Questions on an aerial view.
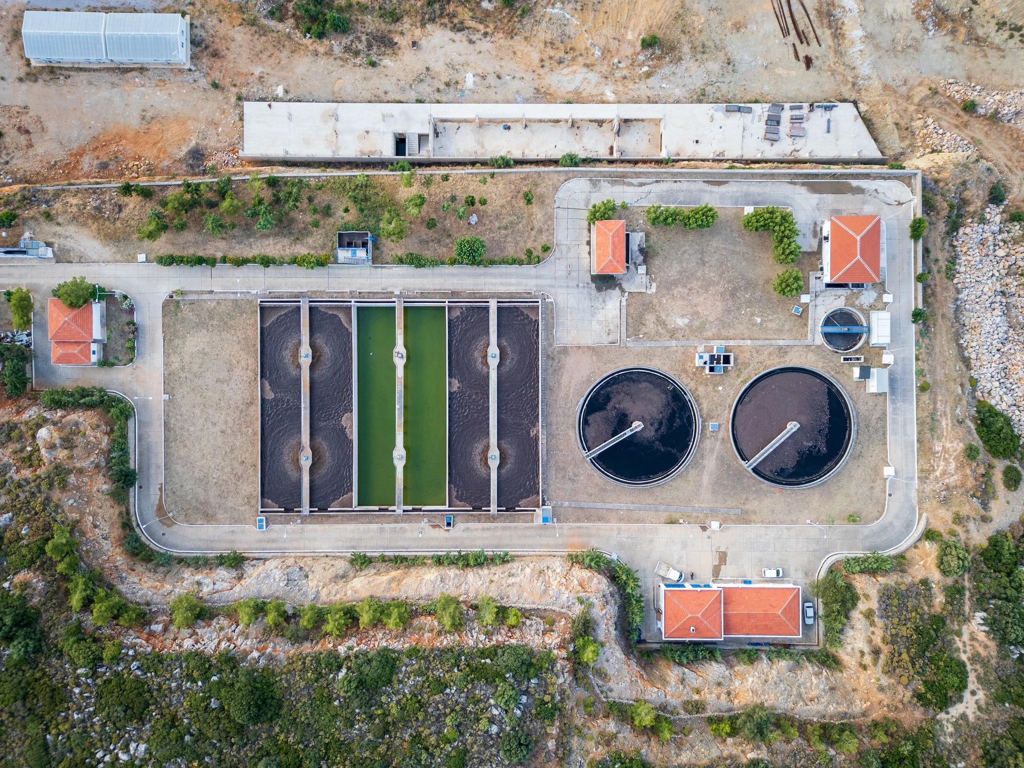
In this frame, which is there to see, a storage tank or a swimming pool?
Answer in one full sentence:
Visible in the photo is a storage tank.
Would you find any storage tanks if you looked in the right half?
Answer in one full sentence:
Yes, in the right half there is a storage tank.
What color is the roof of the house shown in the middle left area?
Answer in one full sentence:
From above, the roof of the house shown in the middle left area looks red.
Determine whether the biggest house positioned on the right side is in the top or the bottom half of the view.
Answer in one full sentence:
The biggest house positioned on the right side is in the bottom half of the image.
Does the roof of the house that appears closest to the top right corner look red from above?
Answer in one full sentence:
Yes, red is the color of the roof of the house that appears closest to the top right corner.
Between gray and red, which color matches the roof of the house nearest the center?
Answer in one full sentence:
From above, the roof of the house nearest the center appears red.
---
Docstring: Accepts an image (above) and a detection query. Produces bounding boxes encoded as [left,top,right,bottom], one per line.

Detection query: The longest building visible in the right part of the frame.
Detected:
[660,584,802,642]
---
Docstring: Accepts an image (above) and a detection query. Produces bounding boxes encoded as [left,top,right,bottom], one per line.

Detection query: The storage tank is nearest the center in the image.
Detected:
[576,364,702,489]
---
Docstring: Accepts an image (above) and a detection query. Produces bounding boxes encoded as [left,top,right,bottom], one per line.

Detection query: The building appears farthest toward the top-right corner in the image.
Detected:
[819,215,881,290]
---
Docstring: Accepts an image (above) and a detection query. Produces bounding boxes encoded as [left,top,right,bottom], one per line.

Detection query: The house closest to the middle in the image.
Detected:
[590,220,634,277]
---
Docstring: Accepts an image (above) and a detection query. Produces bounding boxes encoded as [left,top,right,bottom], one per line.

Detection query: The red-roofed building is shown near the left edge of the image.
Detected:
[48,299,102,364]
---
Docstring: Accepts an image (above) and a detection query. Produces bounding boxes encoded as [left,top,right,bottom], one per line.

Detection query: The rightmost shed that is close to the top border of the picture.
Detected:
[104,13,186,68]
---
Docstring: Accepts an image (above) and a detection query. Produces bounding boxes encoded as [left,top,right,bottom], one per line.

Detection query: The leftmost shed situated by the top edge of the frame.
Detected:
[21,12,112,66]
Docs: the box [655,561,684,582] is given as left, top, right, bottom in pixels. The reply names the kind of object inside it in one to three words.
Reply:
truck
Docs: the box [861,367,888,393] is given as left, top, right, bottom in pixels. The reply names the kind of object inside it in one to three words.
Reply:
shed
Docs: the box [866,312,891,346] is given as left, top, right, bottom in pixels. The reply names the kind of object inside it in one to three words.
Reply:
shed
